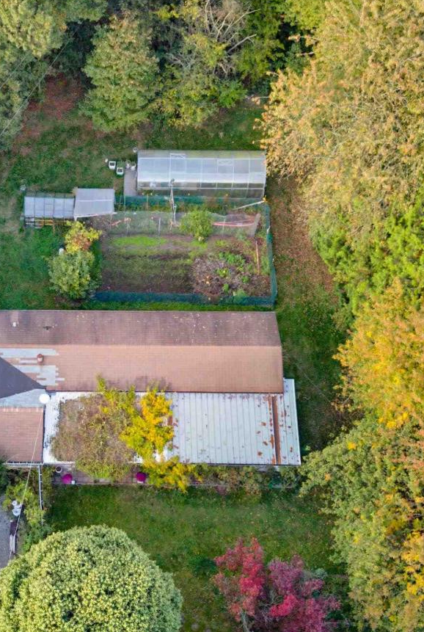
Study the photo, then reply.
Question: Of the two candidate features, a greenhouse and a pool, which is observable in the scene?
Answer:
greenhouse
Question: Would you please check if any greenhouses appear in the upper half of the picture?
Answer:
Yes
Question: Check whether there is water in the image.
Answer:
No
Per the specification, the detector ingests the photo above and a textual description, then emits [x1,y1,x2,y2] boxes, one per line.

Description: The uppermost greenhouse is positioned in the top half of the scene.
[135,148,269,197]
